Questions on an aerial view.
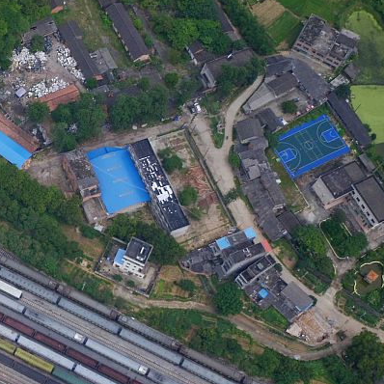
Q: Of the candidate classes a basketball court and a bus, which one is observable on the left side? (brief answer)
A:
bus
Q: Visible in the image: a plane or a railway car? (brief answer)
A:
railway car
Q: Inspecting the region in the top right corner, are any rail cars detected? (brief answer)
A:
No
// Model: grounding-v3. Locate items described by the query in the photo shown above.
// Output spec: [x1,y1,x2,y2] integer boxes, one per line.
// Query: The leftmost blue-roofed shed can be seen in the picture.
[0,132,32,172]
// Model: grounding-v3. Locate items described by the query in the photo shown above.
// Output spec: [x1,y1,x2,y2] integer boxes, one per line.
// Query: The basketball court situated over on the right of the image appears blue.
[274,115,350,175]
